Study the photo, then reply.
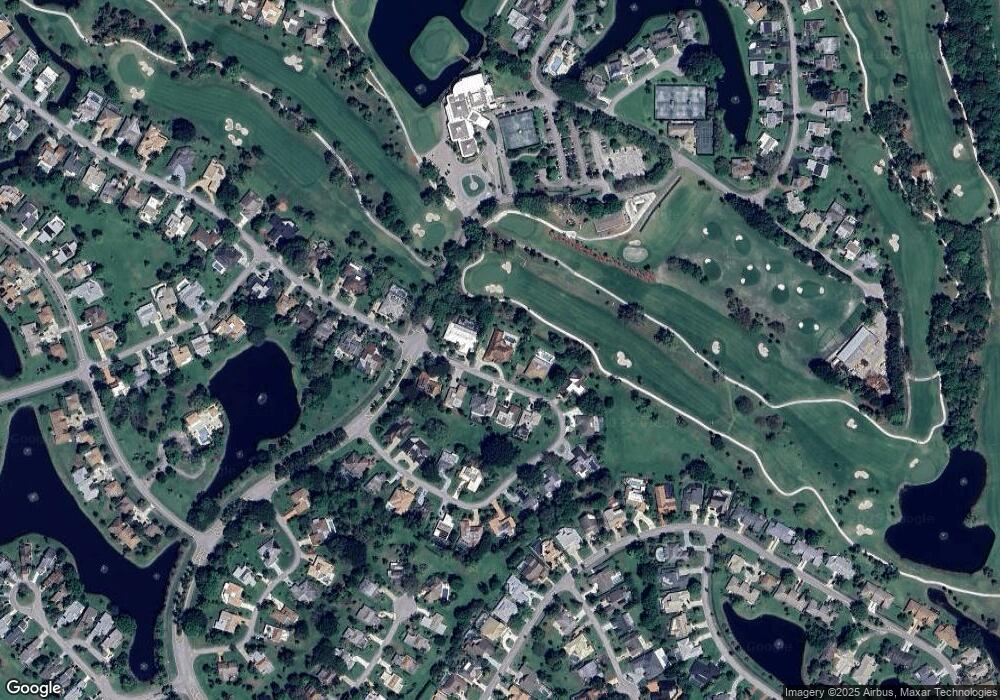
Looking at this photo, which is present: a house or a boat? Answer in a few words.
house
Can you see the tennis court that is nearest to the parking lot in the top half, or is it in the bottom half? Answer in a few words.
top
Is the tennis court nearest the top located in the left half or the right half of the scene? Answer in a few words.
right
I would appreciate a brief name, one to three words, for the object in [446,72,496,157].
building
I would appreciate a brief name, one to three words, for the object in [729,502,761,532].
house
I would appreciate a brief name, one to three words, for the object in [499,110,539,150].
tennis court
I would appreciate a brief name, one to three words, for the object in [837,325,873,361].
shed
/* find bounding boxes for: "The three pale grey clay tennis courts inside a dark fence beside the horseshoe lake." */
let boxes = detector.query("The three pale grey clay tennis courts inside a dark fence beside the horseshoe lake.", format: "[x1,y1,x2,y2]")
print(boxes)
[654,84,706,120]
